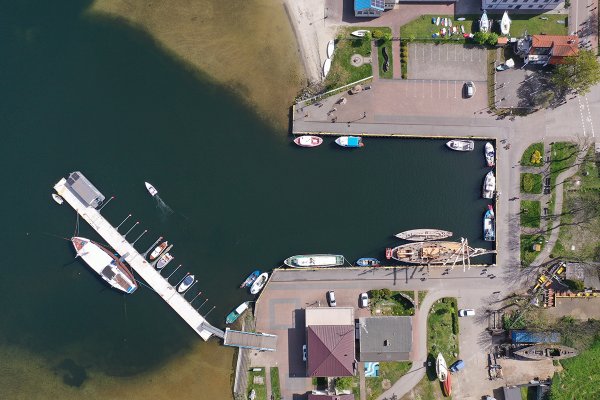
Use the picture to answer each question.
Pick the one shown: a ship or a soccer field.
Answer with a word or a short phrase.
ship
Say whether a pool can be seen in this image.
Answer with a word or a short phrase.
No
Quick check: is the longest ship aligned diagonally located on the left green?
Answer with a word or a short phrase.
No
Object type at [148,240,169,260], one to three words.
boat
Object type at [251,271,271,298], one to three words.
boat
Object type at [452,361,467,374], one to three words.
vehicle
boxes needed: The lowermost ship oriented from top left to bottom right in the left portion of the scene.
[59,217,156,295]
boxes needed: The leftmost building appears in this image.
[63,173,104,209]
